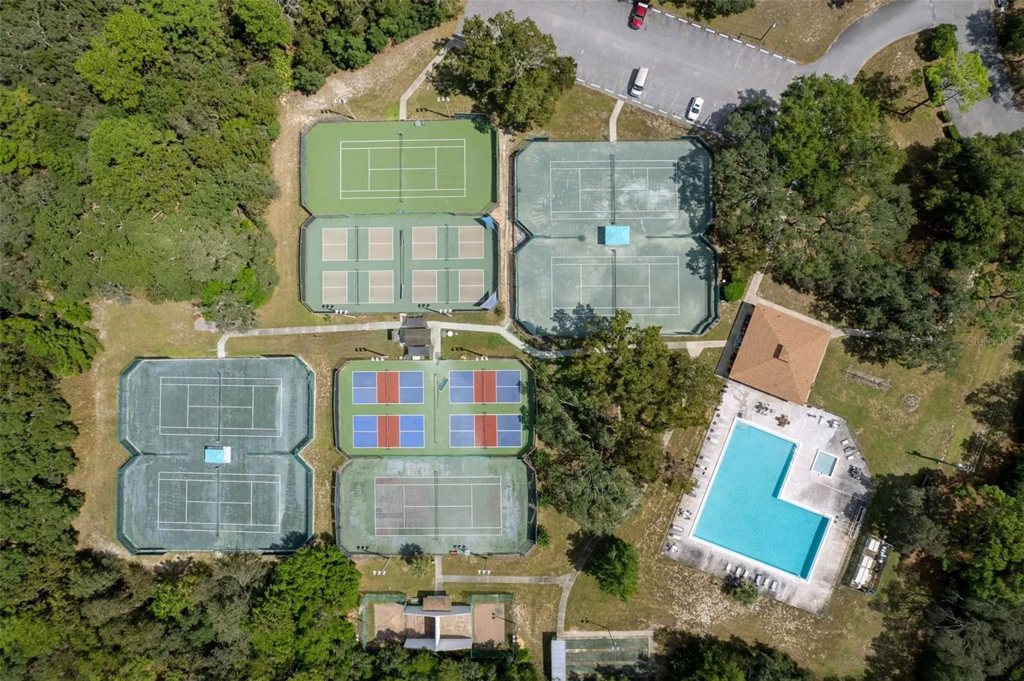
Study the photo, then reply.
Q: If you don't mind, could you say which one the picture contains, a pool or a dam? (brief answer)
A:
pool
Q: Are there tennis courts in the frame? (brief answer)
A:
Yes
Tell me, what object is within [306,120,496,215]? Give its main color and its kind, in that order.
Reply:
green tennis court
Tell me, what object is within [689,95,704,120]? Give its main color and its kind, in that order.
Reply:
white car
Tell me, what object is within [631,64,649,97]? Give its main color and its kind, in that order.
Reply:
white vehicle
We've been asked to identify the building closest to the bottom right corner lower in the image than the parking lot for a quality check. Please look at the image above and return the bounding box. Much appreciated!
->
[726,304,831,405]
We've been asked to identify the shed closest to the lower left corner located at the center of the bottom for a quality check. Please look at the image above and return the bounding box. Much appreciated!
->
[423,593,452,610]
